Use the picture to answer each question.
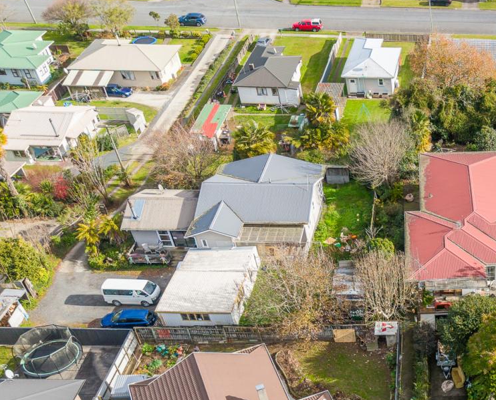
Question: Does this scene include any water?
No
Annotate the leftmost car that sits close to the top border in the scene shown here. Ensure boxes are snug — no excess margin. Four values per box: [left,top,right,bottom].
[179,14,208,28]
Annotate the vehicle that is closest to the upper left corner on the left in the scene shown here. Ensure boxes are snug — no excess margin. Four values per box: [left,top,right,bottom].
[100,84,136,100]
